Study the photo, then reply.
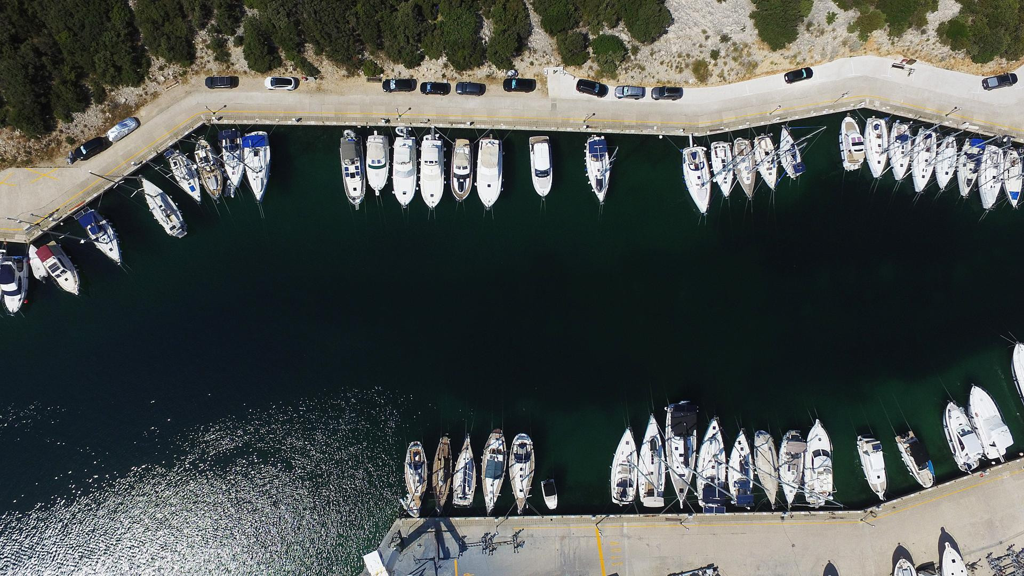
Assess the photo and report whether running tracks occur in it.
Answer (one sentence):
No, no running track can be seen from above.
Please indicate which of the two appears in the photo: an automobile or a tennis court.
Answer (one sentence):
The one in the frame is an automobile.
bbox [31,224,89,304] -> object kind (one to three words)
boat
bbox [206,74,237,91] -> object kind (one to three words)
car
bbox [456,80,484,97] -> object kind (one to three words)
car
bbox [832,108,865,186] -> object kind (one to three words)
boat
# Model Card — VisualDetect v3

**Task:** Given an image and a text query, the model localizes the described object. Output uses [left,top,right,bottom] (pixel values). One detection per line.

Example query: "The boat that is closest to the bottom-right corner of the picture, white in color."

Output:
[934,539,972,576]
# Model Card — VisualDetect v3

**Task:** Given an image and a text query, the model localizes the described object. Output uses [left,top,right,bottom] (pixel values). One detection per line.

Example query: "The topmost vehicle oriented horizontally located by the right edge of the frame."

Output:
[980,72,1017,91]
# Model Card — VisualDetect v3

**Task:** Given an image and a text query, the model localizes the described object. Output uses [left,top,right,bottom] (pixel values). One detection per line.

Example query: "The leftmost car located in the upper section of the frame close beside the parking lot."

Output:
[503,77,534,94]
